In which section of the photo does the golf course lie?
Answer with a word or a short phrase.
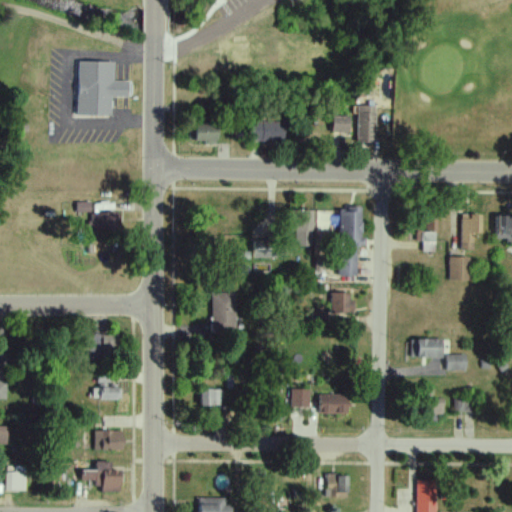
top right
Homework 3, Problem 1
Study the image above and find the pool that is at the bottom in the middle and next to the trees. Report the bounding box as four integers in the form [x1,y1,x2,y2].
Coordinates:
[215,474,230,490]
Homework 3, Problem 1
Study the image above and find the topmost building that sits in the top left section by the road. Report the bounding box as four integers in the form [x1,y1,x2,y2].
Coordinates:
[77,60,133,115]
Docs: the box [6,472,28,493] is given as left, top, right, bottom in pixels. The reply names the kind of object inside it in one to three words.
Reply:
building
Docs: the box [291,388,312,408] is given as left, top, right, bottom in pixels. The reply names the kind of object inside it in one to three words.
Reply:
house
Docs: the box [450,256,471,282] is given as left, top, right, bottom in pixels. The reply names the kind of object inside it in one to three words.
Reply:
building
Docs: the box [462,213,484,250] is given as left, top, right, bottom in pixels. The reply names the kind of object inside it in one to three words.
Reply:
house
